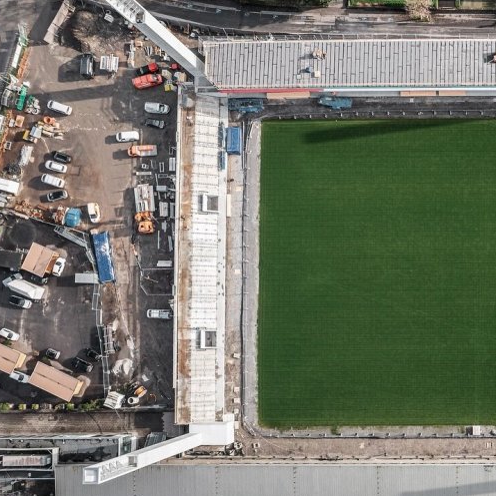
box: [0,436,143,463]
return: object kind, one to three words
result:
building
